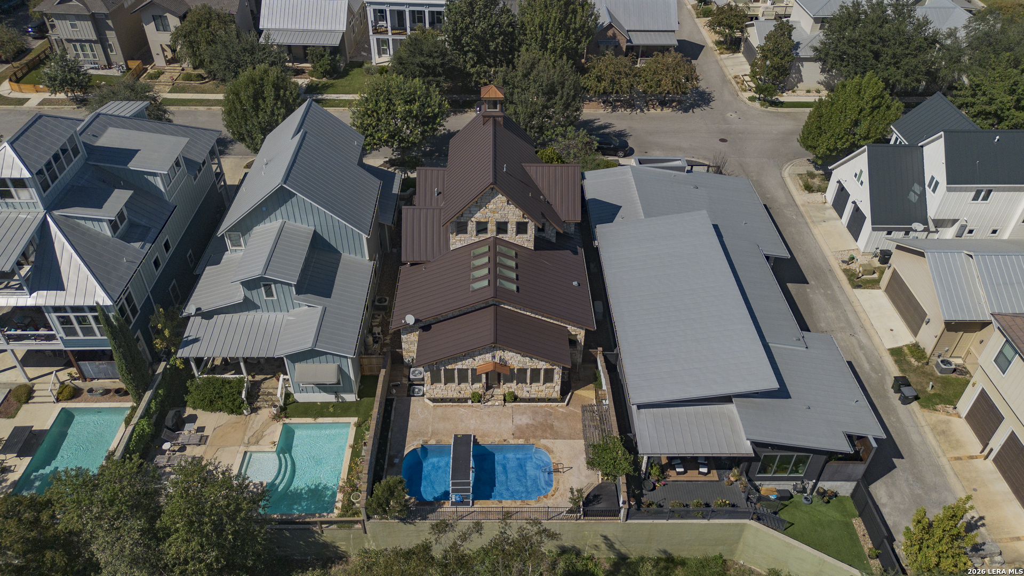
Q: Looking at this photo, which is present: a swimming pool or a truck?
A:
swimming pool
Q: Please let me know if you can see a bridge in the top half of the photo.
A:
No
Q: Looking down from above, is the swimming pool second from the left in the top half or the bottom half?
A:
bottom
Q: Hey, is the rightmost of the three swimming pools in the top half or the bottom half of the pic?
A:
bottom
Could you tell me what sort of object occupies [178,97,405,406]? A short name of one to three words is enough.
house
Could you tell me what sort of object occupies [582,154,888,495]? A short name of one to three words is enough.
house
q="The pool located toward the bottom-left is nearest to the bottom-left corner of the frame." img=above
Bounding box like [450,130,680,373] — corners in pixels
[0,402,133,513]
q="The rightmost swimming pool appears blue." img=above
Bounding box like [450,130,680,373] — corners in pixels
[395,437,562,509]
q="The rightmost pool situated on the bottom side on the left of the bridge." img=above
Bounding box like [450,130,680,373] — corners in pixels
[228,419,355,518]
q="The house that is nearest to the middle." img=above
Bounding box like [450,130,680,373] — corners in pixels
[389,83,598,411]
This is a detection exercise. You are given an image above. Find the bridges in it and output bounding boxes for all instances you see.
[448,435,474,507]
